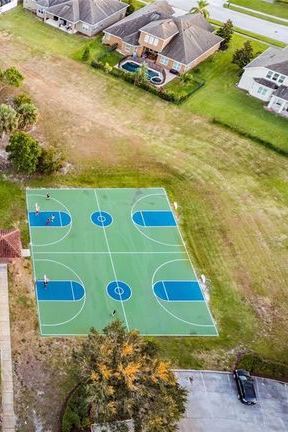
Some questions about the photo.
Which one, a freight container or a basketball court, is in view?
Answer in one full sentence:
I can see a basketball court in this picture.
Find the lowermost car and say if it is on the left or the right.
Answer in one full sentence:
The lowermost car appears in the right half of the scene.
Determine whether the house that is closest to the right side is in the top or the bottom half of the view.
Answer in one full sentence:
Seen from above, the house that is closest to the right side lies in the top half of the view.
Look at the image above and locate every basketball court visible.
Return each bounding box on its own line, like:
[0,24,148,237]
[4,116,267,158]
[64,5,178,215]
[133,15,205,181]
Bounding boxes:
[32,252,219,336]
[26,188,187,253]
